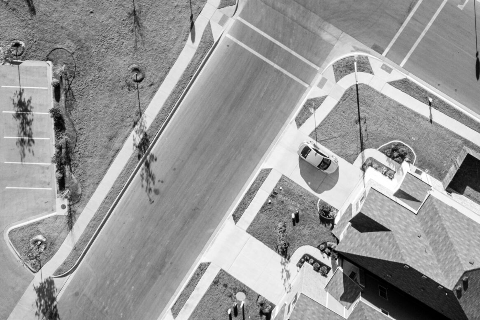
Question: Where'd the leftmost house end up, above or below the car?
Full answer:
Looking at the photo, you'll find the leftmost house below the car.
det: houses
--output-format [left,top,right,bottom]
[275,267,396,320]
[331,169,480,320]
